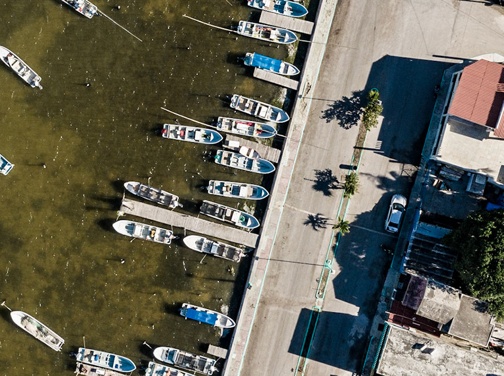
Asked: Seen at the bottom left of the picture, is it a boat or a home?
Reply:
boat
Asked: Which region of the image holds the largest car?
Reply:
right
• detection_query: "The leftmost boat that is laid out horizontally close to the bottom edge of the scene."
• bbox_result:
[68,348,135,373]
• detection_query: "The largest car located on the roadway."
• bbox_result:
[383,194,406,234]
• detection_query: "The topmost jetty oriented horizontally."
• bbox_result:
[259,10,315,35]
